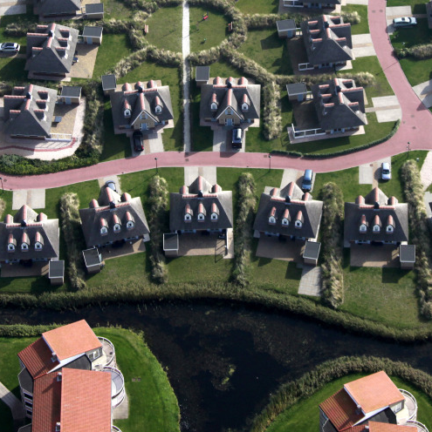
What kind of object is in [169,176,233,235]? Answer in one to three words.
house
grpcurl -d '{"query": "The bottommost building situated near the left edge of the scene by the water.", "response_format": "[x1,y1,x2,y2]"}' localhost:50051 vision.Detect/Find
[17,321,126,432]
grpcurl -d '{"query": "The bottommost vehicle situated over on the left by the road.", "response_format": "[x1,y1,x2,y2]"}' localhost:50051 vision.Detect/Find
[104,176,119,194]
